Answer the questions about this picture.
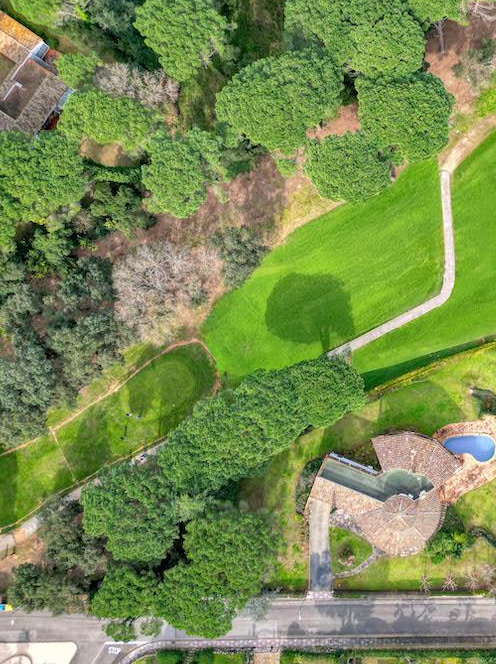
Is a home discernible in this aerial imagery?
Yes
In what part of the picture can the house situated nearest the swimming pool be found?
bottom right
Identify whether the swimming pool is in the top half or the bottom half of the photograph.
bottom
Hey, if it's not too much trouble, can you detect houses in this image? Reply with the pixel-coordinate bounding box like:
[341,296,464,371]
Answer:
[0,13,74,128]
[306,431,464,557]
